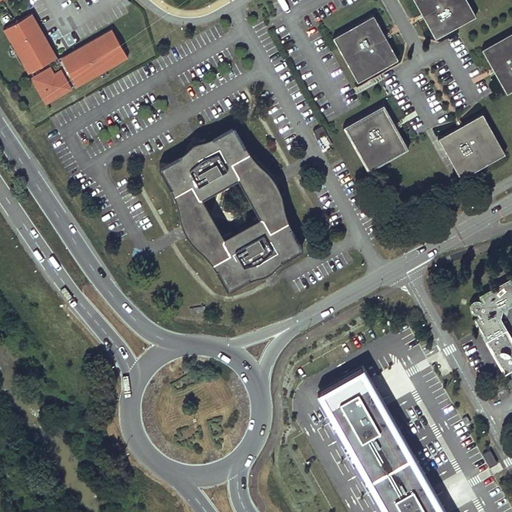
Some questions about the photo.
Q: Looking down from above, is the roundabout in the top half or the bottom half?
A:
bottom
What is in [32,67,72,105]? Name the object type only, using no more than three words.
house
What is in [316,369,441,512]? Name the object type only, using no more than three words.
building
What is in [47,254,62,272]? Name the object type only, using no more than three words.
vehicle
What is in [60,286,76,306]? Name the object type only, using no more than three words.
vehicle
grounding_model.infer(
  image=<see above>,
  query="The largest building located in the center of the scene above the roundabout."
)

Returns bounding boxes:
[161,130,302,293]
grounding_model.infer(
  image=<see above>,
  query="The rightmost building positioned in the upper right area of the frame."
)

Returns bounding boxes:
[482,35,512,96]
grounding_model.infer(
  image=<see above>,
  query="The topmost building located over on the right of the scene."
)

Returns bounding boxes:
[412,0,476,42]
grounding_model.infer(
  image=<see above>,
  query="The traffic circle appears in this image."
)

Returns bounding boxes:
[119,334,282,512]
